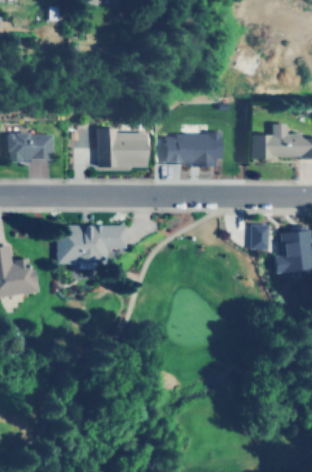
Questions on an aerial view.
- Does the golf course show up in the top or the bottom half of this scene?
bottom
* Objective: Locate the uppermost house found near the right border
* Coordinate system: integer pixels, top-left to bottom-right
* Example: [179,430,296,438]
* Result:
[253,124,312,162]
